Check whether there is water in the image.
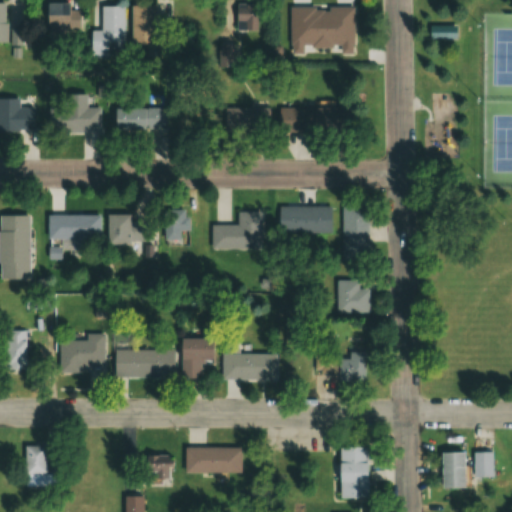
No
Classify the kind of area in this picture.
residential area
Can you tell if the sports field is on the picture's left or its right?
right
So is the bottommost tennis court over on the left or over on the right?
right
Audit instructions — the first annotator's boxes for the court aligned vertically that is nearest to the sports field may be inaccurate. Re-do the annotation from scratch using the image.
[486,100,512,187]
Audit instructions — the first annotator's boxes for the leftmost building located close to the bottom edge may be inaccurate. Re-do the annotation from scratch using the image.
[27,446,50,486]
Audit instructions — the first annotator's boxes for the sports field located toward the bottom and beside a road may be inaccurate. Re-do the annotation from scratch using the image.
[440,260,512,389]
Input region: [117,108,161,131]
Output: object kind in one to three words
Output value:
house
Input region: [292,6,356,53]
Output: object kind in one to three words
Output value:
house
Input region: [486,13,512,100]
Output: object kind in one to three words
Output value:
tennis court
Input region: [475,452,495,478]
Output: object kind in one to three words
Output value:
building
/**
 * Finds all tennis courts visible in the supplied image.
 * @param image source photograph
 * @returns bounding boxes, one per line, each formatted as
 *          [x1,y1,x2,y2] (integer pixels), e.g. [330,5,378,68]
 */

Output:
[486,100,512,187]
[486,13,512,100]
